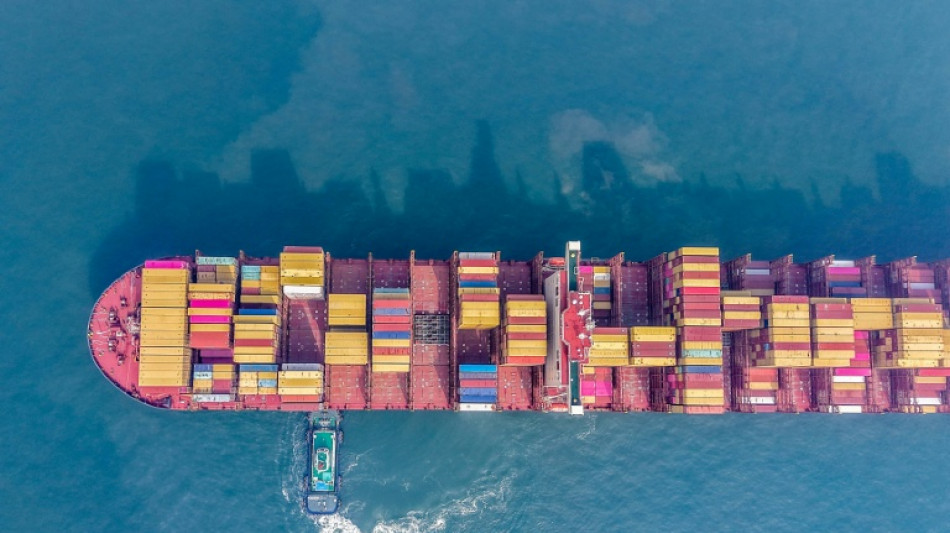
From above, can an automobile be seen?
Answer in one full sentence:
No, the scene contains no automobile.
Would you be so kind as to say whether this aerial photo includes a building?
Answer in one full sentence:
No, there isn't any building down there.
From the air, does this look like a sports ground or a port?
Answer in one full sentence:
This image shows a port.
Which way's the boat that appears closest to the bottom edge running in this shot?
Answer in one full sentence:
In this picture, the boat that appears closest to the bottom edge is oriented vertically.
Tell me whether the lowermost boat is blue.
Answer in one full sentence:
Yes, the lowermost boat is blue.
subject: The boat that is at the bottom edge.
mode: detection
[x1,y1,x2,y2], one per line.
[303,411,344,515]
